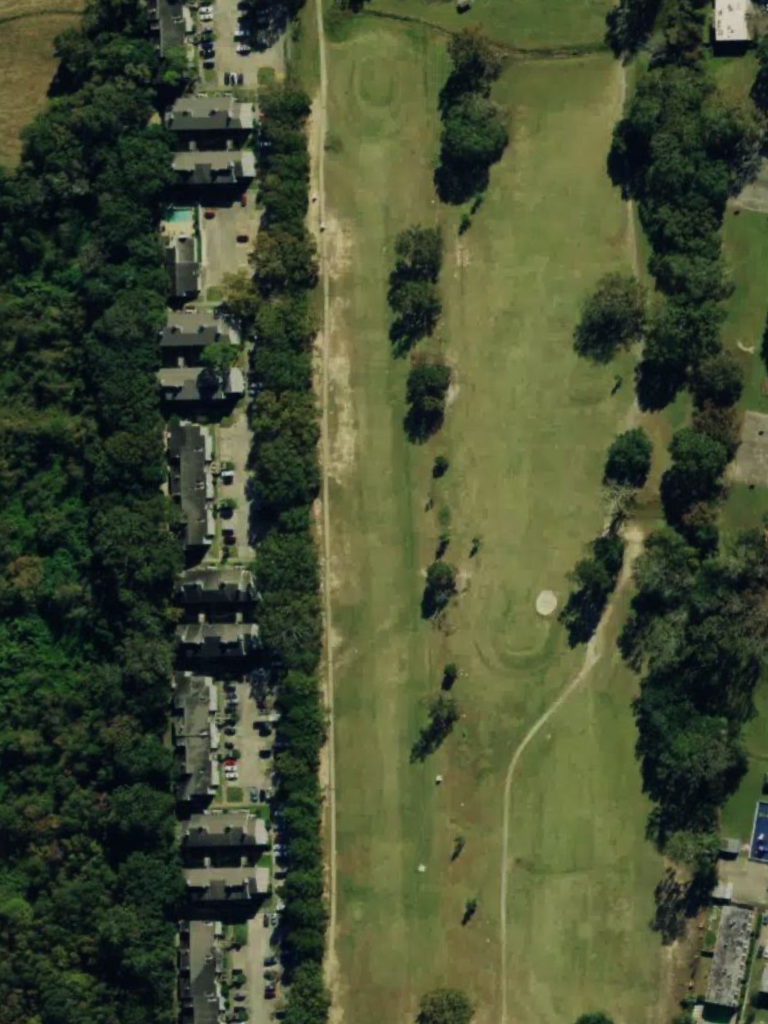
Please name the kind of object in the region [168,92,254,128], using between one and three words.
building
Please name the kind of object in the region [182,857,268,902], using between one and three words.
building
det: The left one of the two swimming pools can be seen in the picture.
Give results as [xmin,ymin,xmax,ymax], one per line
[161,205,195,241]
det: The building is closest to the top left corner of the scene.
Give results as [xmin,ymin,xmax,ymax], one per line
[148,0,192,58]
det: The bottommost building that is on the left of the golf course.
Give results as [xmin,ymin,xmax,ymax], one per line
[178,921,224,1024]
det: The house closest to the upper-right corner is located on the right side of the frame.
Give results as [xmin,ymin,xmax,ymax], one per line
[715,0,755,39]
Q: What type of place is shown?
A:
golf course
